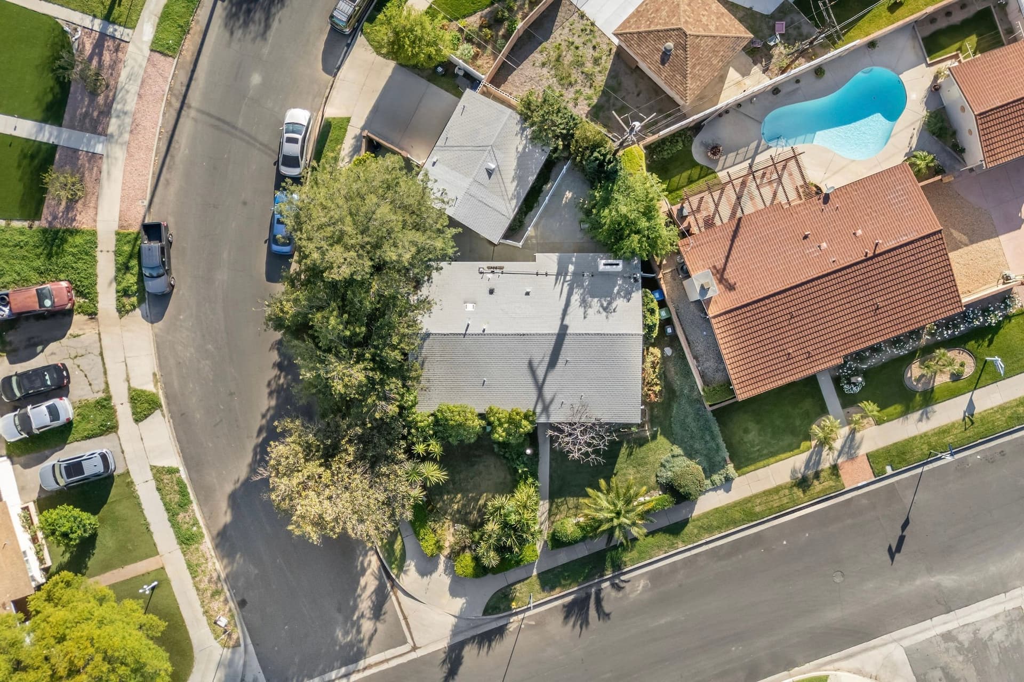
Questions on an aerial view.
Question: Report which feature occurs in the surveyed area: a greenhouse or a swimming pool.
swimming pool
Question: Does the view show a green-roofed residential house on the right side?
No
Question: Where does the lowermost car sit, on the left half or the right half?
left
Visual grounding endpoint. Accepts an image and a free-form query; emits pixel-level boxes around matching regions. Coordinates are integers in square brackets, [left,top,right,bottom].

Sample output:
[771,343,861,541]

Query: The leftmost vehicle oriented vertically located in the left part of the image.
[137,221,174,295]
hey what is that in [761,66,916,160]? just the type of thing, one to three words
swimming pool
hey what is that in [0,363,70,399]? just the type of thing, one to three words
car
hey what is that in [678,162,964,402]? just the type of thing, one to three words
house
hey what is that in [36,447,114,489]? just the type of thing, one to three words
car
